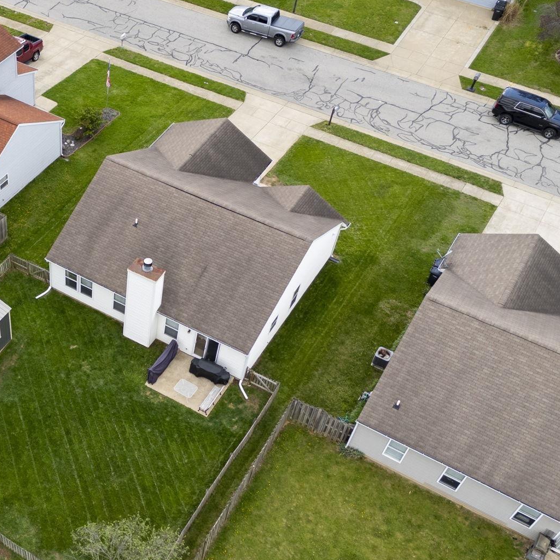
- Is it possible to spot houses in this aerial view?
Yes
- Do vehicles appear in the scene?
Yes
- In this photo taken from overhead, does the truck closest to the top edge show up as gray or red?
gray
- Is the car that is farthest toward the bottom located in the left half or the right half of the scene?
right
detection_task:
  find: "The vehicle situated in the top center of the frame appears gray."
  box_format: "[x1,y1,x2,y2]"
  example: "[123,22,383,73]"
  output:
[226,3,307,46]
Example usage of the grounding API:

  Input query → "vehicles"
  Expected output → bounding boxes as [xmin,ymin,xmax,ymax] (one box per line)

[489,87,560,141]
[12,30,43,65]
[226,3,307,46]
